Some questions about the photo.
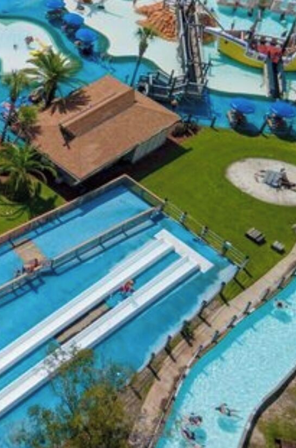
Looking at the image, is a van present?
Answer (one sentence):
No, the scene contains no van.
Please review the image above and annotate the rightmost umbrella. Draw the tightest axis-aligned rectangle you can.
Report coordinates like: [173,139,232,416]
[266,101,296,130]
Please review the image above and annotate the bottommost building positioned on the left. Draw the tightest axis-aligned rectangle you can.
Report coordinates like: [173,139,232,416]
[32,76,180,193]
